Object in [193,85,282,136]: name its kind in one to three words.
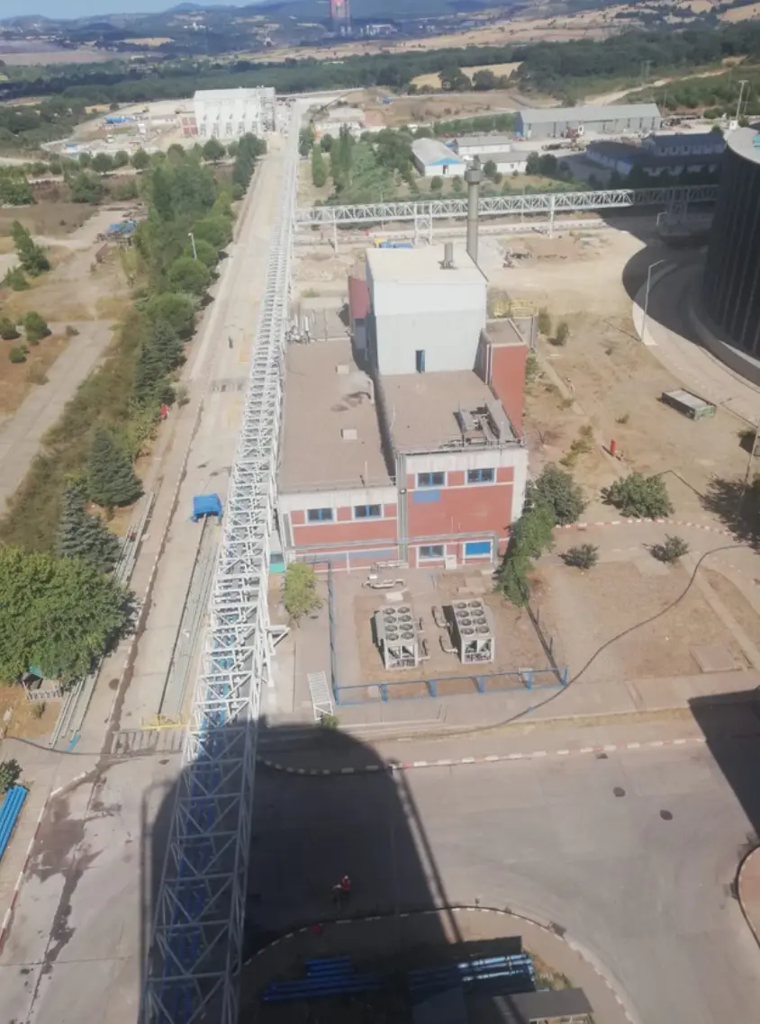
house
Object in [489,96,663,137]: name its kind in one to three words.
building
